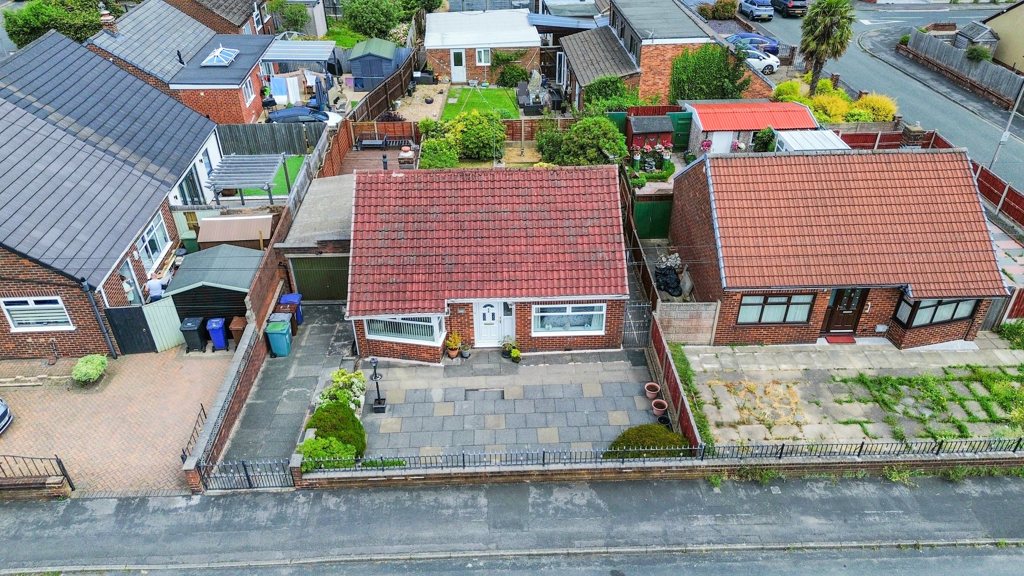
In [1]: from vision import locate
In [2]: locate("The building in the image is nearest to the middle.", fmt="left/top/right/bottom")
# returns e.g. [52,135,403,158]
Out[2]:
[344,144,632,361]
